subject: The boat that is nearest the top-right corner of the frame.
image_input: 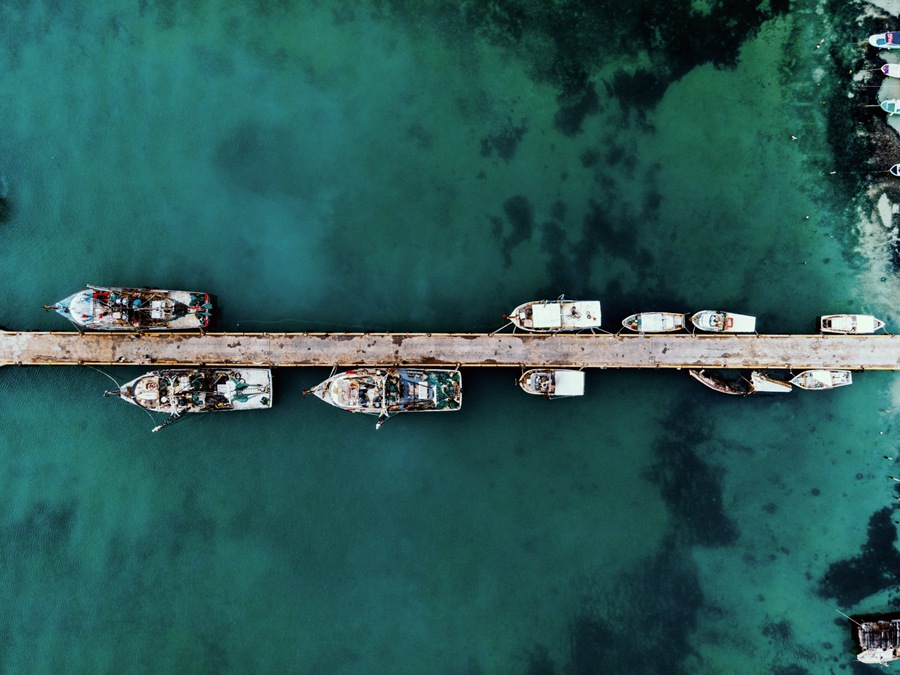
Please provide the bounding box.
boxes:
[867,30,900,50]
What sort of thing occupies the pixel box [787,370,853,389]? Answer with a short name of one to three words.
boat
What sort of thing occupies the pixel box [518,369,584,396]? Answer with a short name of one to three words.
boat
